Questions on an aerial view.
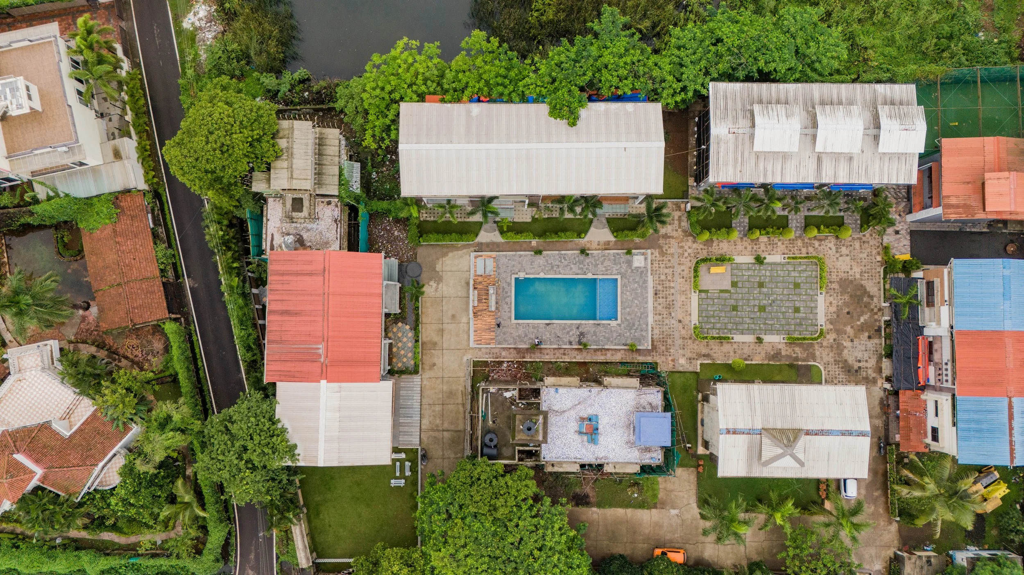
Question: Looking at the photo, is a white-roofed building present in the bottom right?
Yes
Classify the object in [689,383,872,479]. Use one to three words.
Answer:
house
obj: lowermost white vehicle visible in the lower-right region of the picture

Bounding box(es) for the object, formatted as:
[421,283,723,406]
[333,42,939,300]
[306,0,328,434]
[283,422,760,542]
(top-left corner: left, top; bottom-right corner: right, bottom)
[840,479,861,501]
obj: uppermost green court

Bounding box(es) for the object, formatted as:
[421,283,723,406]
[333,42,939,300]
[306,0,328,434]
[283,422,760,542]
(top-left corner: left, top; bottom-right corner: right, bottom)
[903,64,1024,147]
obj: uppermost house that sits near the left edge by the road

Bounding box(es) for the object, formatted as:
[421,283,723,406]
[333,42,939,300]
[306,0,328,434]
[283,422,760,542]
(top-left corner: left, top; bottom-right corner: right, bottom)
[0,22,158,198]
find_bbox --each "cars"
[654,548,689,567]
[840,479,861,501]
